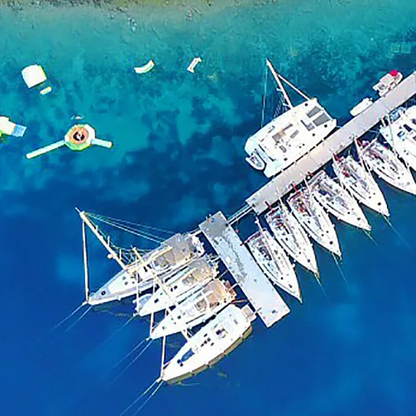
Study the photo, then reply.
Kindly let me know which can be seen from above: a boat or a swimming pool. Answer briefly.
boat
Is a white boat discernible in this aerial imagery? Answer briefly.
Yes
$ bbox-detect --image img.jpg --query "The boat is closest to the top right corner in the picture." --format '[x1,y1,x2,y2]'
[372,71,404,93]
